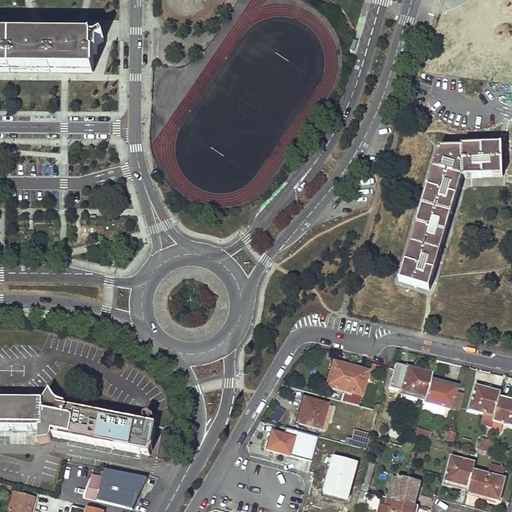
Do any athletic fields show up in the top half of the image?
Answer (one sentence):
Yes, an athletic field is visible in the top half of the image.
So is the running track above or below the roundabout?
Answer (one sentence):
From this view, the running track can be seen above the roundabout.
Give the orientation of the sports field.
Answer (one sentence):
In this picture, the sports field is oriented at an angle.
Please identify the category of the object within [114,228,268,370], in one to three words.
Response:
roundabout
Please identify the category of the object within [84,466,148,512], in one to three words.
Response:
building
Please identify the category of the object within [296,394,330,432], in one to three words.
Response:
house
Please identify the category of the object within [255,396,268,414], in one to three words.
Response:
vehicle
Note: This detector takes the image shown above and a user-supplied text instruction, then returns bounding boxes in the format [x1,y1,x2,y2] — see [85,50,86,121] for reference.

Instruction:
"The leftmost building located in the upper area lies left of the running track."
[0,22,92,72]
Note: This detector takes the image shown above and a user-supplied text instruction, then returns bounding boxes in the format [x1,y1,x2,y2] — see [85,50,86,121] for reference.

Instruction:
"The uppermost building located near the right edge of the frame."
[399,138,502,289]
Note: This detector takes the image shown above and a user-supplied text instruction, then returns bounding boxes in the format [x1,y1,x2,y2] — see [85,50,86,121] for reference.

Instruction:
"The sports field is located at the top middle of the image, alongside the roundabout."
[174,16,324,193]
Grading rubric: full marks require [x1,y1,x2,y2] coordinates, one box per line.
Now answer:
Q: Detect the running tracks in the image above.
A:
[153,0,336,204]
